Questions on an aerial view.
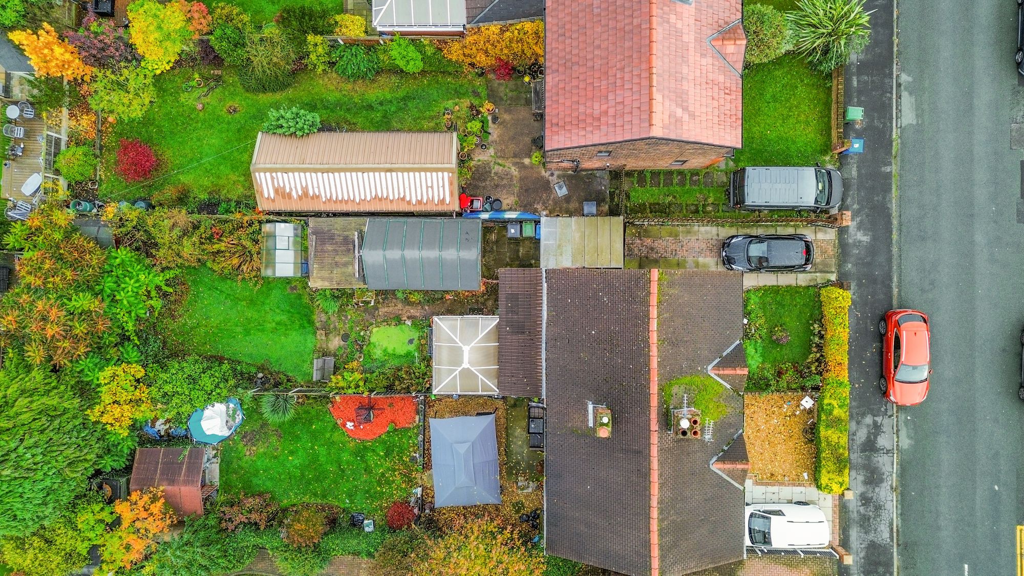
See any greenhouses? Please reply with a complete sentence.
Yes, the image includes a greenhouse.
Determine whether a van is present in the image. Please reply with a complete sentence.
Yes, the picture does show a van.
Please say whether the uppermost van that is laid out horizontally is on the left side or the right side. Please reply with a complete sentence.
The uppermost van that is laid out horizontally appears in the right half of the scene.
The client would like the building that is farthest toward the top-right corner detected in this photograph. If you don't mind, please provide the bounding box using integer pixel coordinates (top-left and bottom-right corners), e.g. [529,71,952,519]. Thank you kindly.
[542,0,750,175]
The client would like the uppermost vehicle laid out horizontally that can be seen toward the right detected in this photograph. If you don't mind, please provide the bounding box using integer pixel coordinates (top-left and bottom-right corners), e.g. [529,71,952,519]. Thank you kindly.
[727,161,844,217]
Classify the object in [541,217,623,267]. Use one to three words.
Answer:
building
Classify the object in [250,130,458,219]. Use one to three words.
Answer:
building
